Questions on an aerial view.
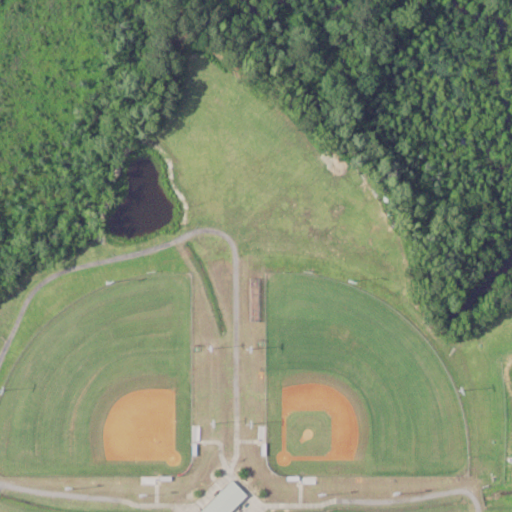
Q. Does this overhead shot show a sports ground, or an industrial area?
sports ground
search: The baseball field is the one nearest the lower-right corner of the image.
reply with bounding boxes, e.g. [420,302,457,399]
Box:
[266,272,470,476]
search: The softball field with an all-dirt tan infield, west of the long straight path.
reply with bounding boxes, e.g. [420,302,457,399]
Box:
[0,272,192,474]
